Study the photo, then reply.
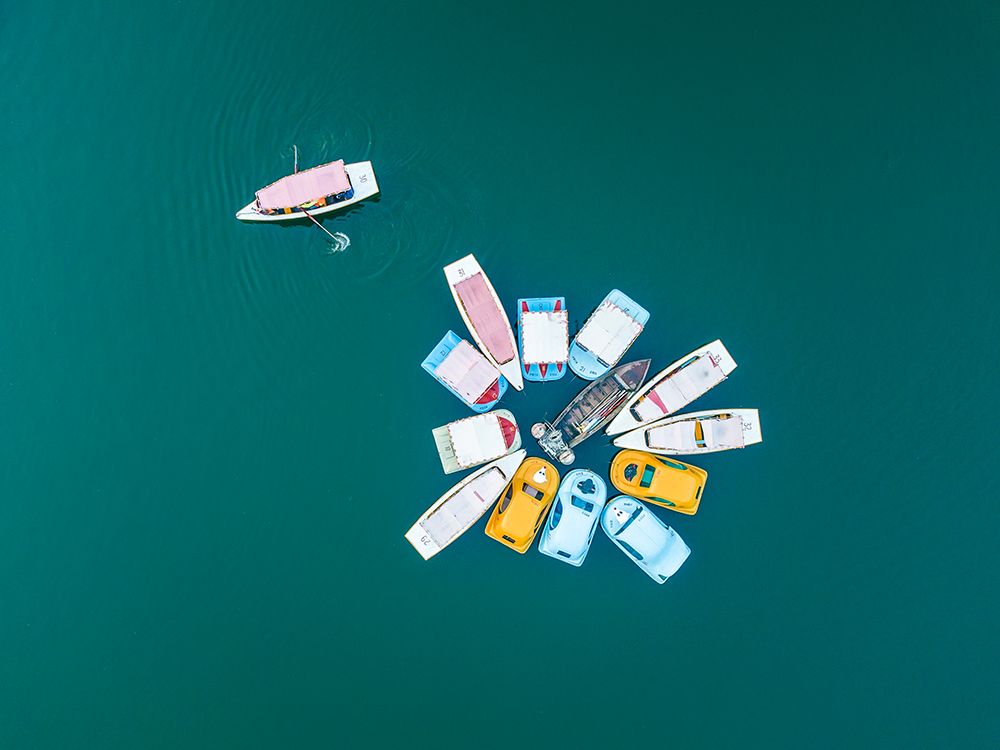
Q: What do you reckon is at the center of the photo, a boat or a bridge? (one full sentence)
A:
You can see a boat at the center of the photo.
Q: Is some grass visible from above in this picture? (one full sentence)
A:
No, there is no grass in the image.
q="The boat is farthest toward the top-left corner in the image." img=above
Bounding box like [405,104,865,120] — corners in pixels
[235,159,380,220]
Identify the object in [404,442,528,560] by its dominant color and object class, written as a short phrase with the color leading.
white boat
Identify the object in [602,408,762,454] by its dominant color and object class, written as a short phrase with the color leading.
white boat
